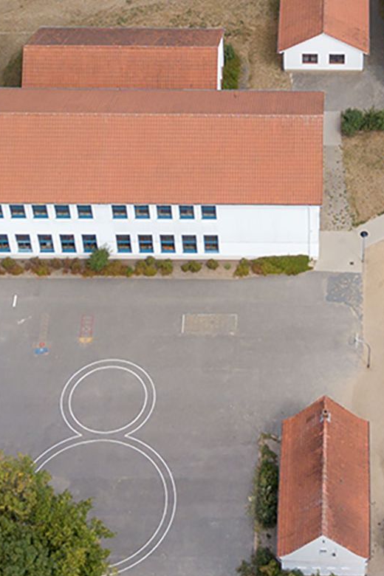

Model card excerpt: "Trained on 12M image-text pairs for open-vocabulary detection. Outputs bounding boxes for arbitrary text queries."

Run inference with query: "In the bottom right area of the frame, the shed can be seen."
[276,399,372,575]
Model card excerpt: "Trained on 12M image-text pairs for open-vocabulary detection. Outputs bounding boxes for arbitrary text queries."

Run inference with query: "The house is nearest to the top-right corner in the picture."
[277,0,370,70]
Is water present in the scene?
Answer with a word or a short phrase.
No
